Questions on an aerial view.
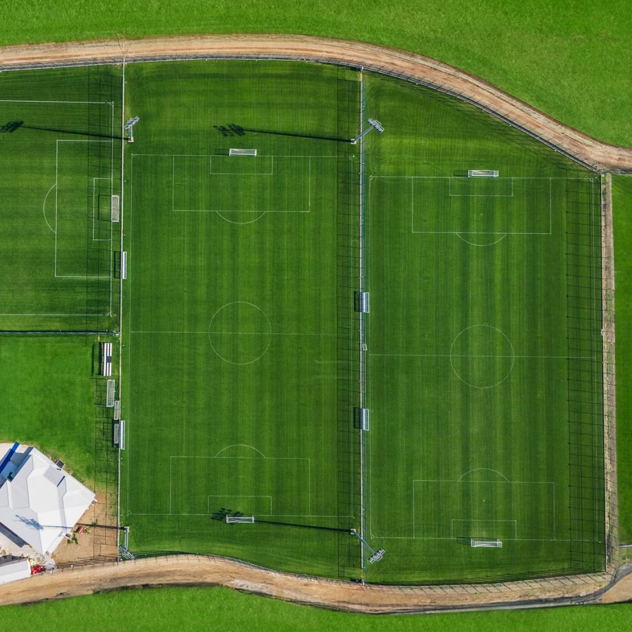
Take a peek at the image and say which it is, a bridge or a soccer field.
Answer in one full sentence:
There is a soccer field in the scene.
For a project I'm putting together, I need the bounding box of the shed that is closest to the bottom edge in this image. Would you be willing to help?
[0,559,32,585]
